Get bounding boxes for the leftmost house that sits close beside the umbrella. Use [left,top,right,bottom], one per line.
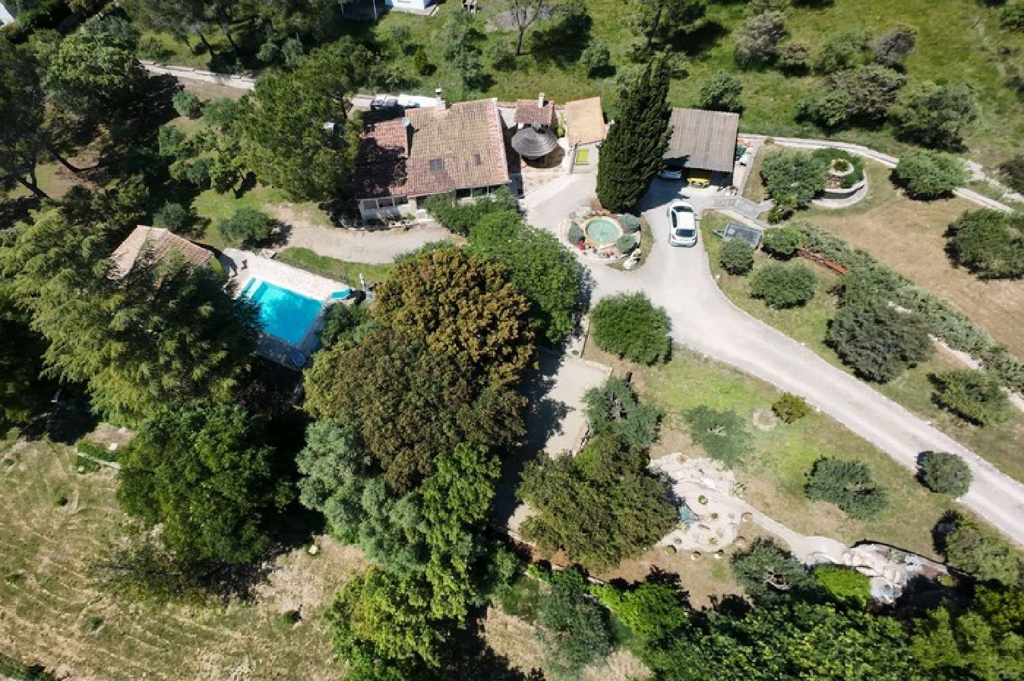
[407,87,515,239]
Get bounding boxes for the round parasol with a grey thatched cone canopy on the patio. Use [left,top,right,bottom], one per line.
[511,129,558,171]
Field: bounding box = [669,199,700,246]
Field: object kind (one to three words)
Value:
car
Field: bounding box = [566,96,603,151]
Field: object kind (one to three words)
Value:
shed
